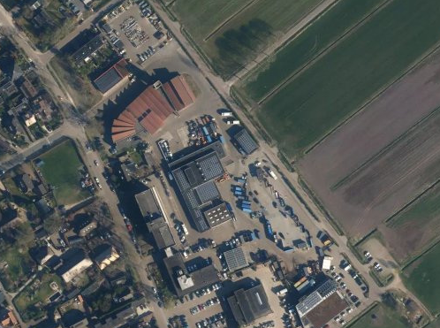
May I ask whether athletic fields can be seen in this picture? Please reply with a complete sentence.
Yes, the image includes an athletic field.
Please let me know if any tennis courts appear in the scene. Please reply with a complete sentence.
No, I can't see a single tennis court in this photo.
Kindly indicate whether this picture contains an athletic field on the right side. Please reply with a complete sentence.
No, I see no athletic field on the right side.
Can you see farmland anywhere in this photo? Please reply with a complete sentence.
Yes, farmland can be seen from above here.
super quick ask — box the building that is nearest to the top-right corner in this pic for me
[233,128,260,157]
